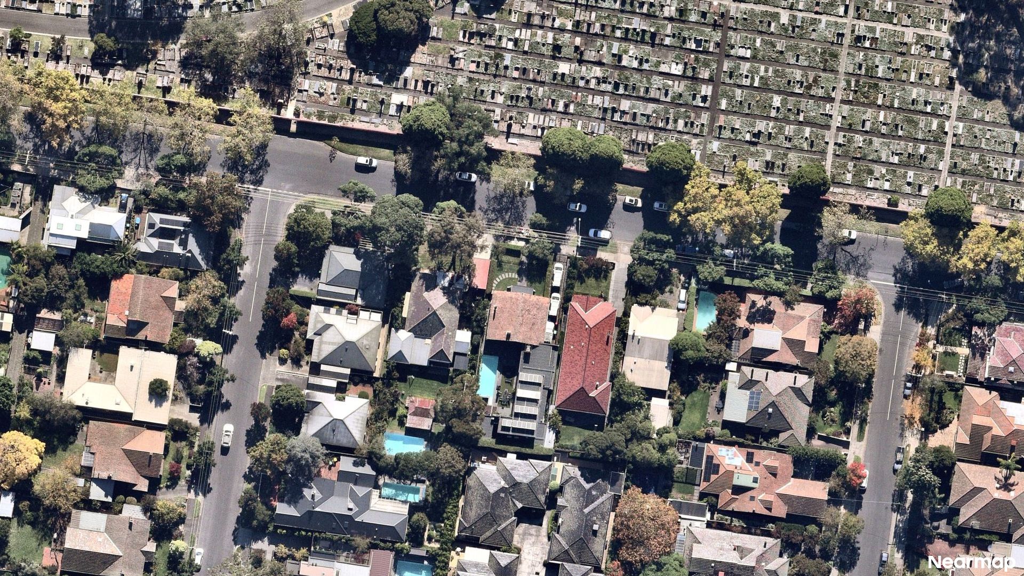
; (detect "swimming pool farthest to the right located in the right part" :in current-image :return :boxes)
[696,290,718,332]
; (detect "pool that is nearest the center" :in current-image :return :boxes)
[478,355,499,400]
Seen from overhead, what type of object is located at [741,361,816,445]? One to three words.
house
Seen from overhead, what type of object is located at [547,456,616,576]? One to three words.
house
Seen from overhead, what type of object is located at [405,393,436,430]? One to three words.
shed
